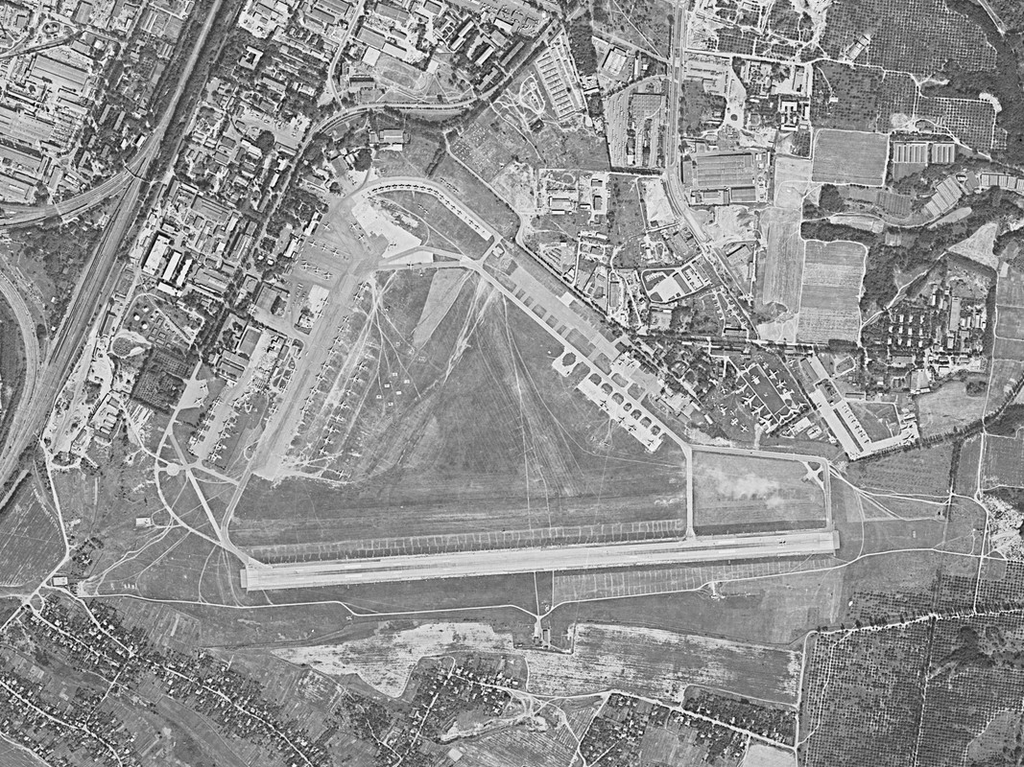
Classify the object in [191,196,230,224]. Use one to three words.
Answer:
building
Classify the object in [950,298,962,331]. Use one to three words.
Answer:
building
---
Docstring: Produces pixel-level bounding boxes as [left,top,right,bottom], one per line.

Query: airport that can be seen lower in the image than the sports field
[155,175,919,605]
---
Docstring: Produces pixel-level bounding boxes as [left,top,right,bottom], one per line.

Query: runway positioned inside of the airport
[248,535,834,587]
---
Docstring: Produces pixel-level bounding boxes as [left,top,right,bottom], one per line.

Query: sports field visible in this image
[376,52,433,93]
